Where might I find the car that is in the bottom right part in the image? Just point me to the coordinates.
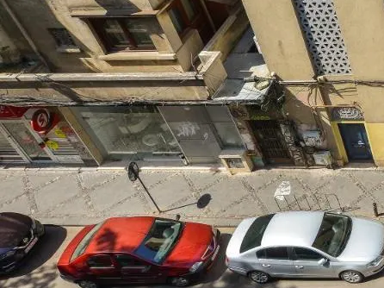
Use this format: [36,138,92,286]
[221,207,384,287]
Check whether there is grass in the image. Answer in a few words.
No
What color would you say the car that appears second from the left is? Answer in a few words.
red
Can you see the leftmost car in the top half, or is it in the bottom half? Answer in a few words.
bottom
